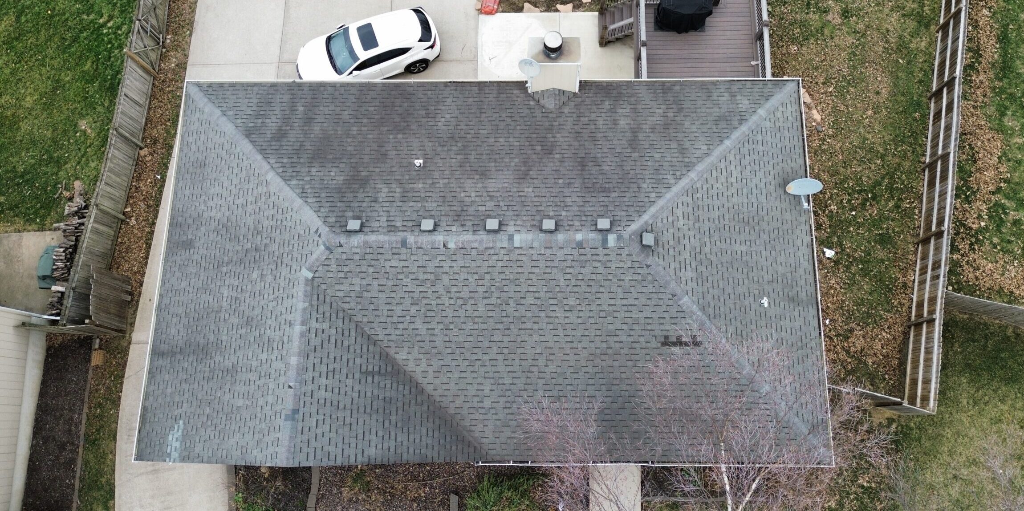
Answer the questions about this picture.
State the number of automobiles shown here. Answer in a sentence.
My tally gives 1 automobile in this photo.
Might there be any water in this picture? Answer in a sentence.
No, water can't be seen anywhere here.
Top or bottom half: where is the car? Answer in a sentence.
Seen from above, the car lies in the top half of the view.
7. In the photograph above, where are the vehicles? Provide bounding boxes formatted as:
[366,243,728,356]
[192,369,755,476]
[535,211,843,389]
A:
[298,8,445,79]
